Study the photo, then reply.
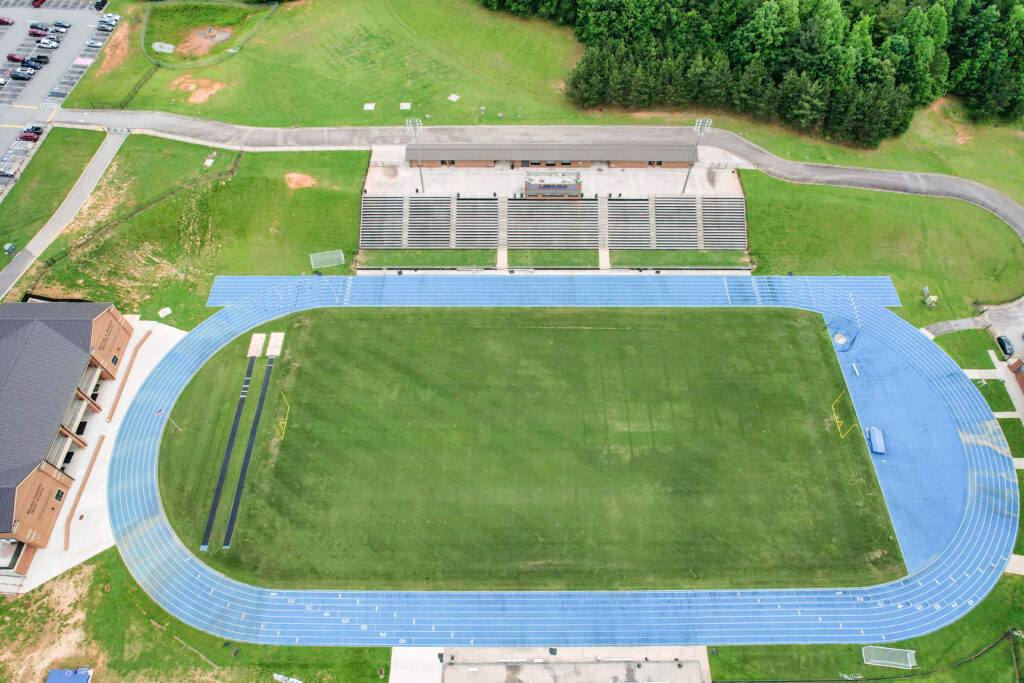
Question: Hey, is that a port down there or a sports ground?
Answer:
sports ground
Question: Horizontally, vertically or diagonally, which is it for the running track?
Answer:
horizontally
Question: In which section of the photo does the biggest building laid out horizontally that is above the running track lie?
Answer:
top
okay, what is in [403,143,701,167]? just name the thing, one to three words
building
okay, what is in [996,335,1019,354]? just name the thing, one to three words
car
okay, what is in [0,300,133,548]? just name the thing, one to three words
building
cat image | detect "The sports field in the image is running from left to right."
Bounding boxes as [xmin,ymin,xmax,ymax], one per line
[158,307,907,589]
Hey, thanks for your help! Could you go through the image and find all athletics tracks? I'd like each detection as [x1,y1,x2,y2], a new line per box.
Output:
[107,275,1019,647]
